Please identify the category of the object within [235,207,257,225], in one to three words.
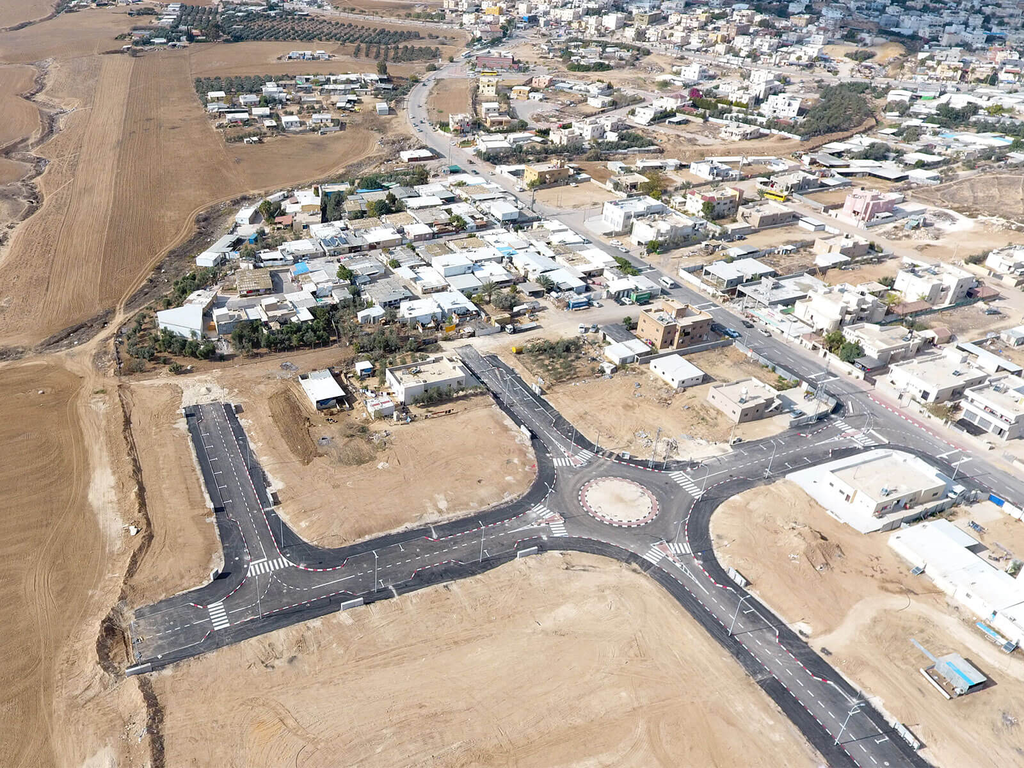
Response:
building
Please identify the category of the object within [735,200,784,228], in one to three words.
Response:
house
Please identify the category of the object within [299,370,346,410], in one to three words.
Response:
barn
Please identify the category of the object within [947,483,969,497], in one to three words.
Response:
vehicle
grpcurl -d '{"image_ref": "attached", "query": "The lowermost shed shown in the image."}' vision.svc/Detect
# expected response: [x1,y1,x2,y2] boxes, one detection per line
[932,654,987,693]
